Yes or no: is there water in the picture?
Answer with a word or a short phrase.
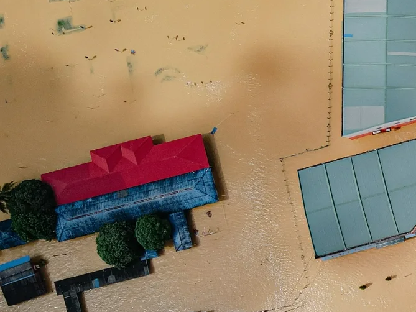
Yes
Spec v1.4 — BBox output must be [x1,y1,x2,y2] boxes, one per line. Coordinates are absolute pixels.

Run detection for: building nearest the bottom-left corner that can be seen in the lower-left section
[0,256,51,305]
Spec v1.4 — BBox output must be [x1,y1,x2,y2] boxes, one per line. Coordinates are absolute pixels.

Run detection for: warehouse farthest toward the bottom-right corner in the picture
[297,139,416,260]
